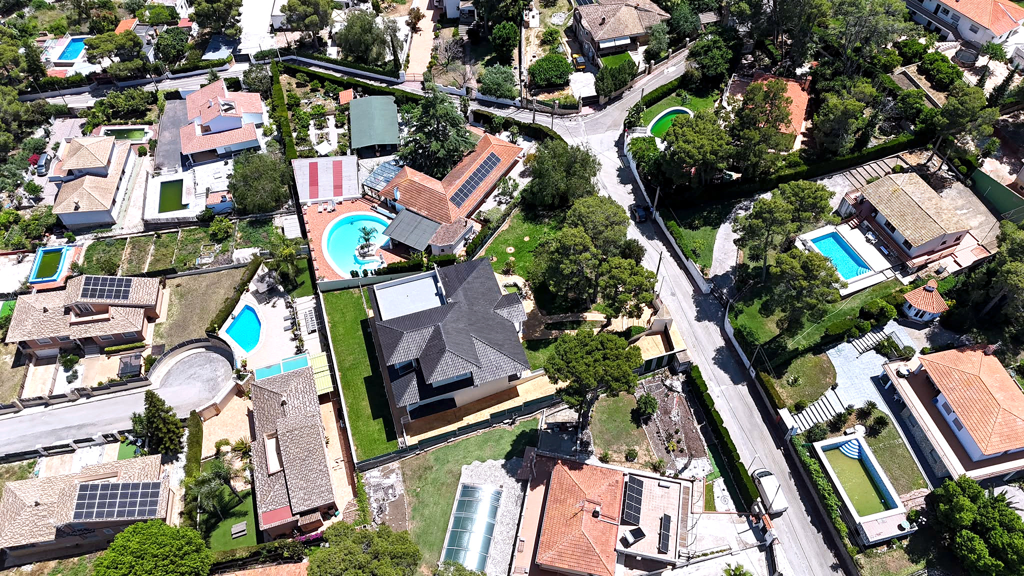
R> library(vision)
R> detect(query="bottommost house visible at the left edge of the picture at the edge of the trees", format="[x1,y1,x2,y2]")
[0,455,185,554]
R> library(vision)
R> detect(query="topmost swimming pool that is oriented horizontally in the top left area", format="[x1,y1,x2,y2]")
[99,126,151,142]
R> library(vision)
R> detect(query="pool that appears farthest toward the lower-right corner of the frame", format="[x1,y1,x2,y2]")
[806,430,910,532]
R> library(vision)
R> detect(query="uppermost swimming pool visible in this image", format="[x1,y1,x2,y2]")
[51,36,94,63]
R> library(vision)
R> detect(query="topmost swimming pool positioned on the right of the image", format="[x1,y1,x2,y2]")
[647,107,696,140]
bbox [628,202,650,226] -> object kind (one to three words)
car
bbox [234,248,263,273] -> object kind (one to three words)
shed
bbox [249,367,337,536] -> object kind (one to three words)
house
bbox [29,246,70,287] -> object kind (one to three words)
swimming pool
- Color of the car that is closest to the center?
black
